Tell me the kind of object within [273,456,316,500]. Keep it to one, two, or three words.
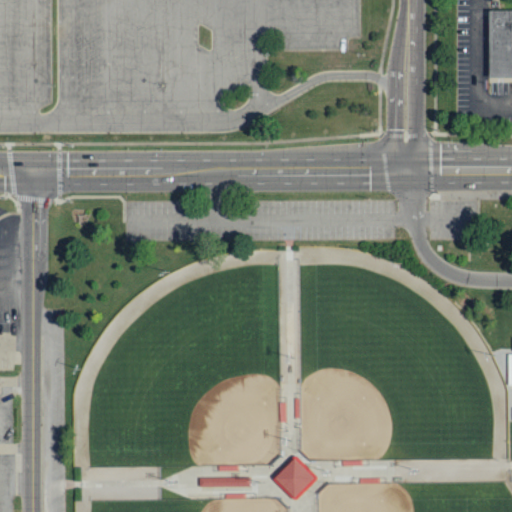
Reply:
building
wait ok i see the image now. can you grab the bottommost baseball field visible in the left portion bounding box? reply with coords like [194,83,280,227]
[92,488,288,512]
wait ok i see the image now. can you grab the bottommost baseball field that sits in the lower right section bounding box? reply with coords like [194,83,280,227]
[318,483,512,512]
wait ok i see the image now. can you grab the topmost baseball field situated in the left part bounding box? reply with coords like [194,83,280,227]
[89,265,280,478]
